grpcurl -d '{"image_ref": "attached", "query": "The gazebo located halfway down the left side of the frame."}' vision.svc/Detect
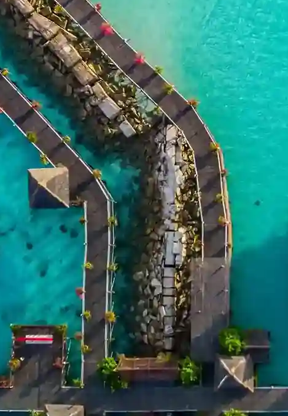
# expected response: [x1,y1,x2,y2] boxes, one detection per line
[27,166,73,209]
